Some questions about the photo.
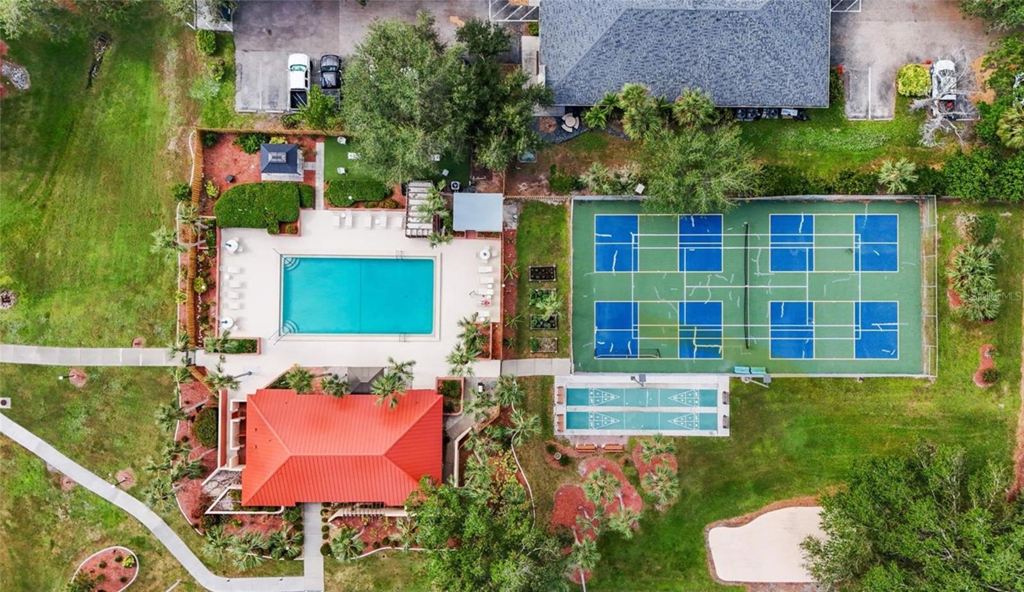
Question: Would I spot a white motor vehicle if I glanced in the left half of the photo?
Yes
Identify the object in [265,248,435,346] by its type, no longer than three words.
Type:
swimming pool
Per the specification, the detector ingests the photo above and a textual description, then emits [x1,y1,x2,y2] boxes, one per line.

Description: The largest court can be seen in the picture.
[572,200,924,375]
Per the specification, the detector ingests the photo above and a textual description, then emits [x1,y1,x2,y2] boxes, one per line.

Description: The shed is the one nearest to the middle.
[453,193,503,232]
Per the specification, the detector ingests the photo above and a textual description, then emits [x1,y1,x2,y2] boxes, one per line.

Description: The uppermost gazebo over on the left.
[260,144,300,173]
